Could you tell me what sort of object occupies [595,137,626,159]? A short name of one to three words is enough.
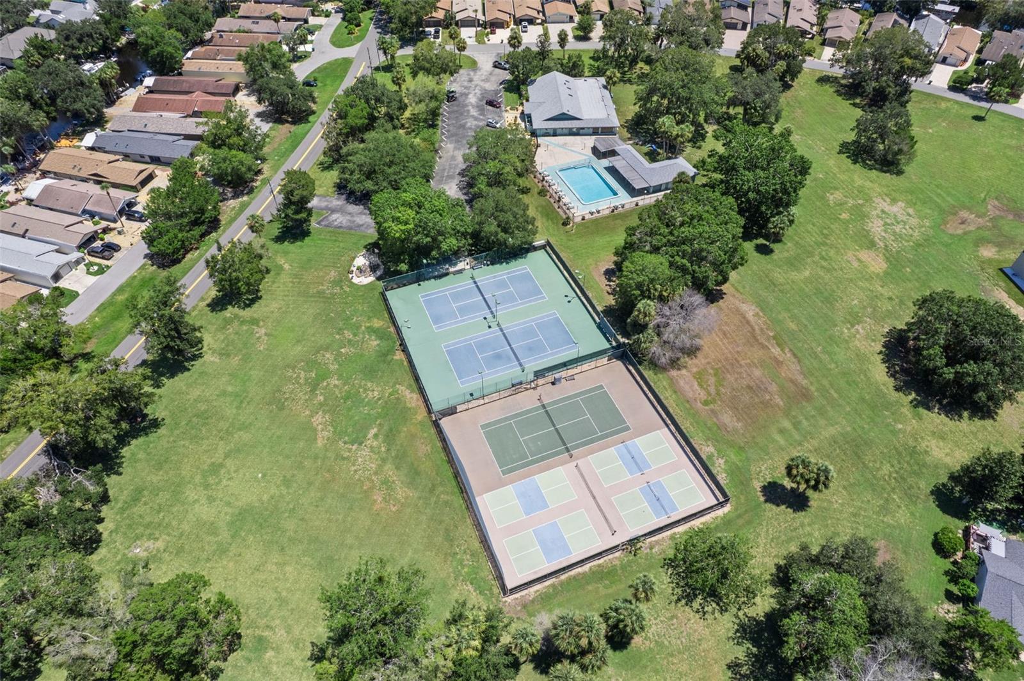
building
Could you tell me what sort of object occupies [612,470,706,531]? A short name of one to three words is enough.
sports court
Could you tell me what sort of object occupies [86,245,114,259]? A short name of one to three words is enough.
vehicle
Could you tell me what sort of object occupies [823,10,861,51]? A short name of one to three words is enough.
house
